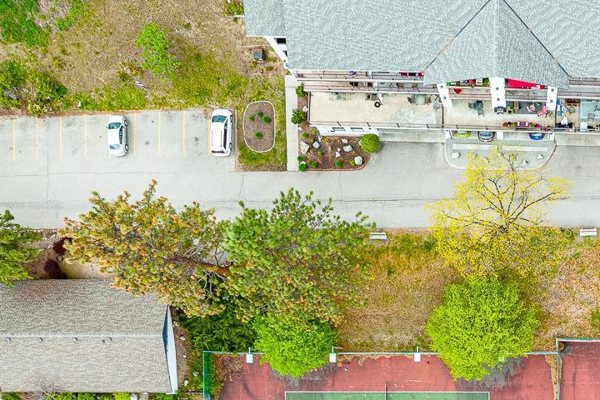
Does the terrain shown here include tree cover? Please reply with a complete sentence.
Yes, tree cover can be seen from above here.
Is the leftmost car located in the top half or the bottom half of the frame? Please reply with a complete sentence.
It is in the top half that the leftmost car appears.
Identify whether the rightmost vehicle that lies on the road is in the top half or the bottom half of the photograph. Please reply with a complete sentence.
You can find the rightmost vehicle that lies on the road in the top half.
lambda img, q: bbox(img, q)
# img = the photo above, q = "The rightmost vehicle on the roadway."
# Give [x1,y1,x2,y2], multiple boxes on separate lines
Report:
[209,109,233,155]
